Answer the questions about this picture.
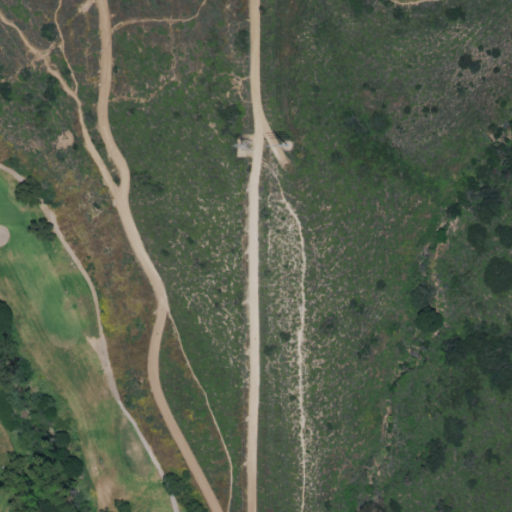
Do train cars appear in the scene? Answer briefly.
No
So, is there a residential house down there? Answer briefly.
No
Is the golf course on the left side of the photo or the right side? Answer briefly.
left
